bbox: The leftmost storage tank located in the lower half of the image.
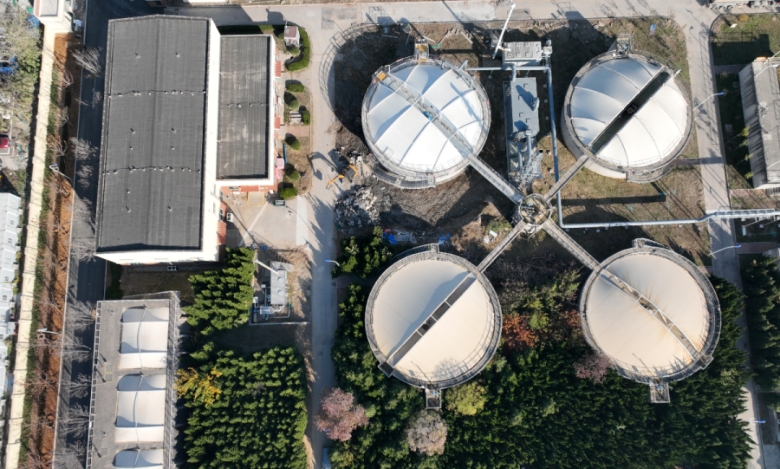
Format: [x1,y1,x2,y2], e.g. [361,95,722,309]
[366,244,503,409]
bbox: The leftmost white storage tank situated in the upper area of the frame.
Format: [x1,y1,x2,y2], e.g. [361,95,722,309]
[362,35,491,195]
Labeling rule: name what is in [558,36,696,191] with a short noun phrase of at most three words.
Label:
storage tank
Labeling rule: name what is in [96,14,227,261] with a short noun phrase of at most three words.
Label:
building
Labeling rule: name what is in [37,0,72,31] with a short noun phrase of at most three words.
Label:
building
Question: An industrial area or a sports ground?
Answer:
industrial area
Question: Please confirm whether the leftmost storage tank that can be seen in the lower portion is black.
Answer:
No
